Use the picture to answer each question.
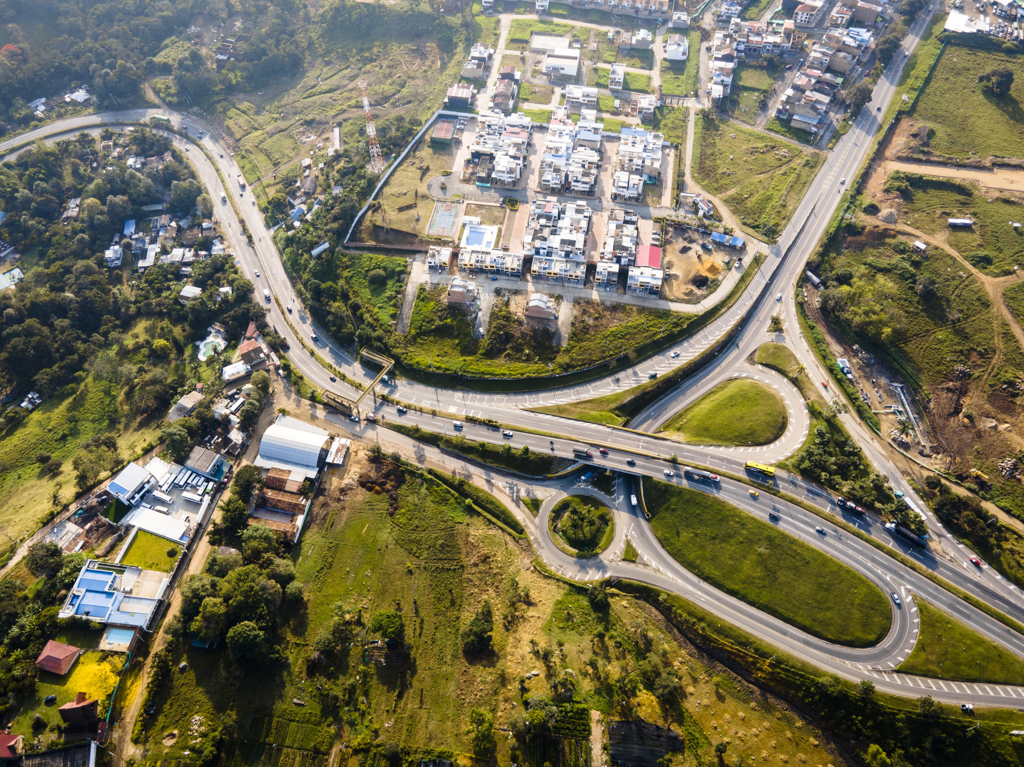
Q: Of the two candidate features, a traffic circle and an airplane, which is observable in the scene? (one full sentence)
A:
I can see a traffic circle in this picture.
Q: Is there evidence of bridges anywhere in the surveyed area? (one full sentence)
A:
Yes, there's a bridge here.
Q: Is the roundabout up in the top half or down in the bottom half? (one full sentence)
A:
The bottom half of the photo is where the roundabout is.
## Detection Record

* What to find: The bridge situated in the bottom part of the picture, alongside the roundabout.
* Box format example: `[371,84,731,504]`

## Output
[547,417,670,520]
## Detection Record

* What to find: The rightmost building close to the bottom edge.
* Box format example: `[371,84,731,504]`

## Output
[609,719,684,767]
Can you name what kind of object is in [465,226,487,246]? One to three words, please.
swimming pool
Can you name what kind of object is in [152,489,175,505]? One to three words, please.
vehicle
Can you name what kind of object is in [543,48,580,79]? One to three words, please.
building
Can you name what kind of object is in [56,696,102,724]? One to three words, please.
house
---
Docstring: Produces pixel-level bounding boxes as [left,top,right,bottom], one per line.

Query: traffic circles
[536,486,627,570]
